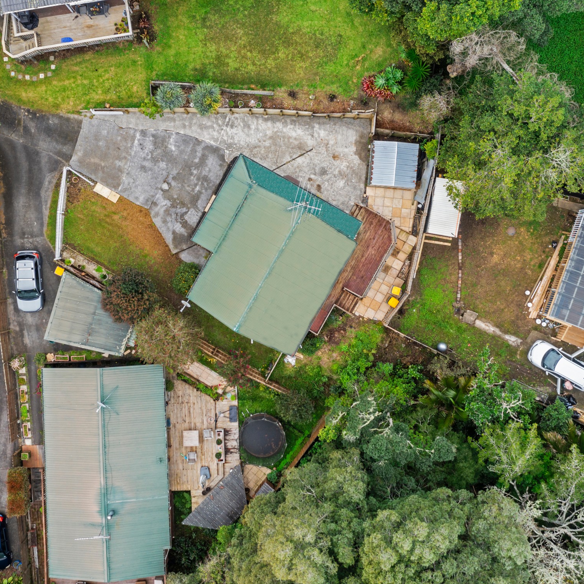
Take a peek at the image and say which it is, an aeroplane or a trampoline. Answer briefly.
trampoline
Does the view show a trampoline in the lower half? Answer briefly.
Yes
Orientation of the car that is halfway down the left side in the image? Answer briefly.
from top to bottom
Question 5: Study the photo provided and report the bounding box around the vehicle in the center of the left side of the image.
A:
[11,250,43,312]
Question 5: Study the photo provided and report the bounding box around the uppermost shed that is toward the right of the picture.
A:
[369,140,419,190]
